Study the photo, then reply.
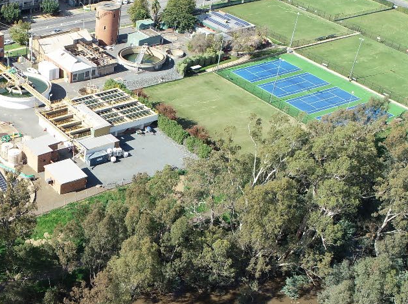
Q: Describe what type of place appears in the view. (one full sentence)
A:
The area seen from above is an industrial area.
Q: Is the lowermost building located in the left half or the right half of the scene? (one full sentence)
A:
The lowermost building appears in the left half of the scene.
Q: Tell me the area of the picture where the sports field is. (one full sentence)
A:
The sports field is located in the top right region of the scene.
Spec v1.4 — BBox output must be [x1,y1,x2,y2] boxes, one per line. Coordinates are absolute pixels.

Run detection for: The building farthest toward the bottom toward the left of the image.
[43,158,88,193]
